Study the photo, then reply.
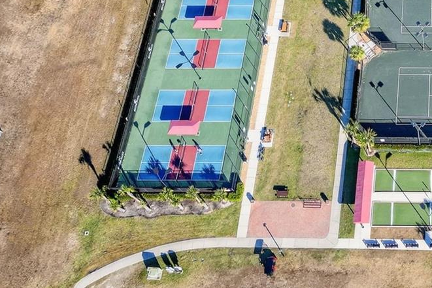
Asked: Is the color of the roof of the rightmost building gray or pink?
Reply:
pink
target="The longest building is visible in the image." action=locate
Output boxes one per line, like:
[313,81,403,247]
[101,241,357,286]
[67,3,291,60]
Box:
[353,161,379,230]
